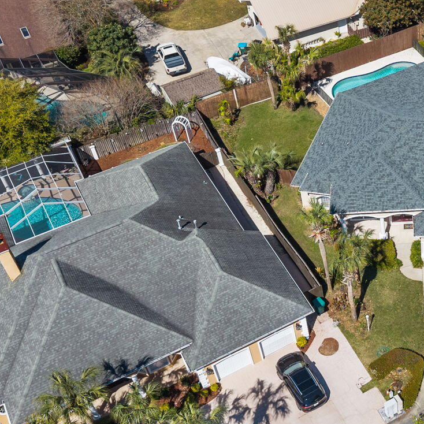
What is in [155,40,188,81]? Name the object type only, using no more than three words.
truck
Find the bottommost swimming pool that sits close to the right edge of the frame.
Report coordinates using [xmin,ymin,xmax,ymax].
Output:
[328,59,419,102]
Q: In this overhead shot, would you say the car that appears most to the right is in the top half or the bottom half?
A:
bottom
